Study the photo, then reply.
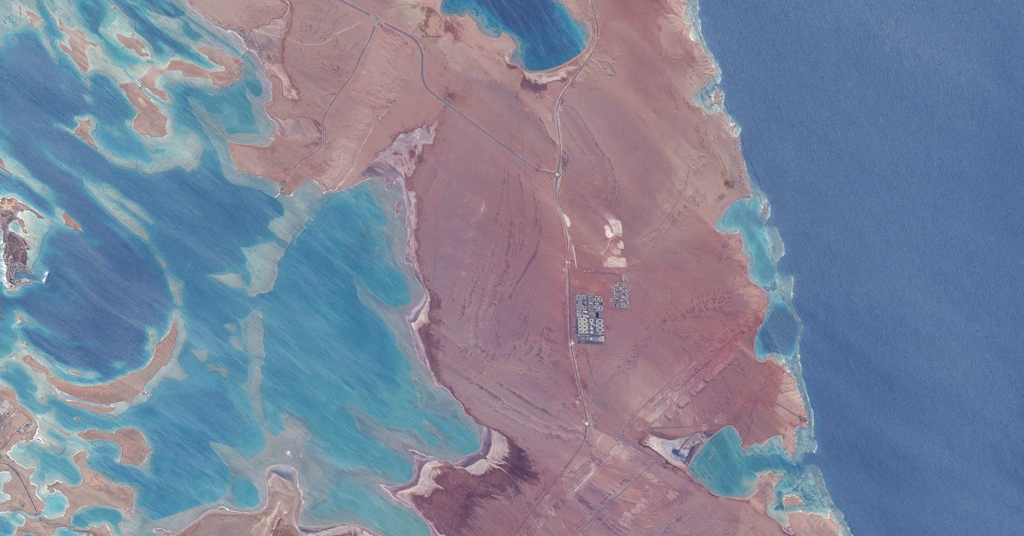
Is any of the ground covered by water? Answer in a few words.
Yes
